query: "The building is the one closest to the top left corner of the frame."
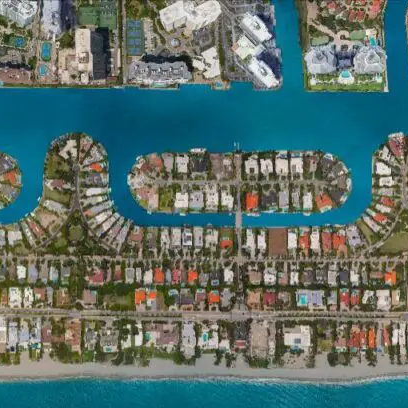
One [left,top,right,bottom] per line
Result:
[0,0,39,28]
